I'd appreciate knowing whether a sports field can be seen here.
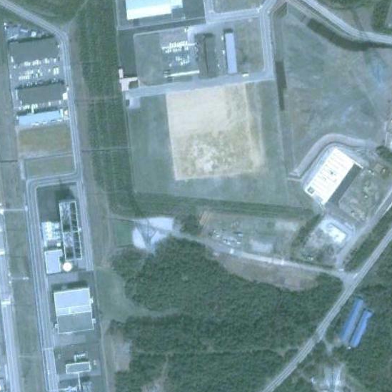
Yes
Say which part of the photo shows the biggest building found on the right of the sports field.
right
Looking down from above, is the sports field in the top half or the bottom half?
top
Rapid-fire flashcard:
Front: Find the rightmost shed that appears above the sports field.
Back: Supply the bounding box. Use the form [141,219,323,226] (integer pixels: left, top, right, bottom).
[226,34,238,74]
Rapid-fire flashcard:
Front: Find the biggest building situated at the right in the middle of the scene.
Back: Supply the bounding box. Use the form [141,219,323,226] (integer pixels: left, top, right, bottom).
[305,147,355,204]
